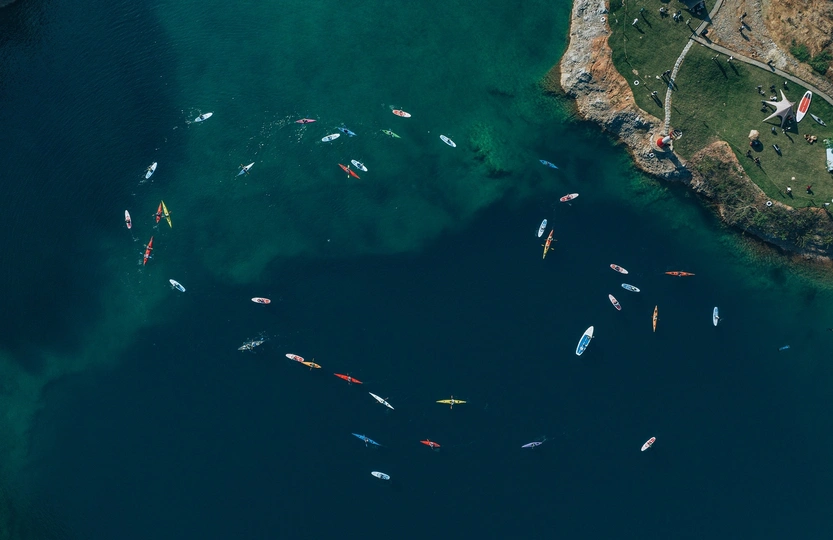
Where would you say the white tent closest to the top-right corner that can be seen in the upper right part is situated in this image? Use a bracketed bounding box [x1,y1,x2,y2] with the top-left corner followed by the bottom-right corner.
[763,89,796,128]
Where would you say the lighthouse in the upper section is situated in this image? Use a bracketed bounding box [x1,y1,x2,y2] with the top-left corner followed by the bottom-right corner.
[651,128,682,153]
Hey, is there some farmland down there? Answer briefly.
No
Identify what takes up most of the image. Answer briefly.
water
